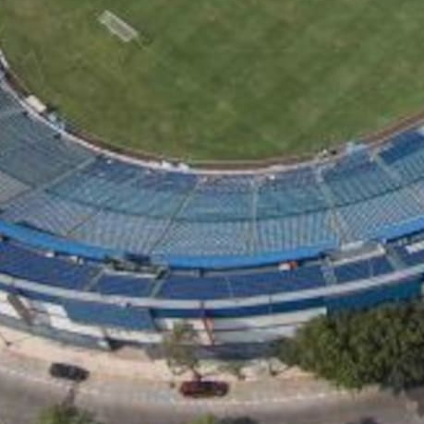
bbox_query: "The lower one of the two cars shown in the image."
[183,379,224,400]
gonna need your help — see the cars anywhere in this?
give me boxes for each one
[183,379,224,400]
[47,360,89,384]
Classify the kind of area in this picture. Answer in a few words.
sports ground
